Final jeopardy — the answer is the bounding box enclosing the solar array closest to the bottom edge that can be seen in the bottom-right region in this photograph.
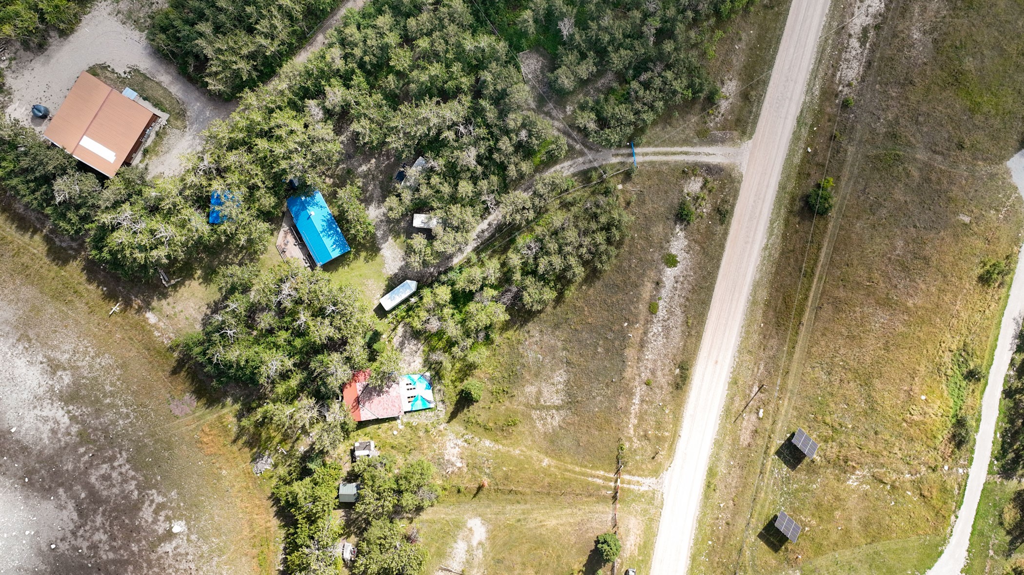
[774,511,801,543]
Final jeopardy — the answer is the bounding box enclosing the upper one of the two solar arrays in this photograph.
[792,428,819,459]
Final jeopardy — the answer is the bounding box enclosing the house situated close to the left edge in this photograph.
[44,70,161,171]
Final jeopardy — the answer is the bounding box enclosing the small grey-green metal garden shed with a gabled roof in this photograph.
[339,481,361,502]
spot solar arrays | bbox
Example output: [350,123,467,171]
[792,428,819,459]
[774,511,801,543]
